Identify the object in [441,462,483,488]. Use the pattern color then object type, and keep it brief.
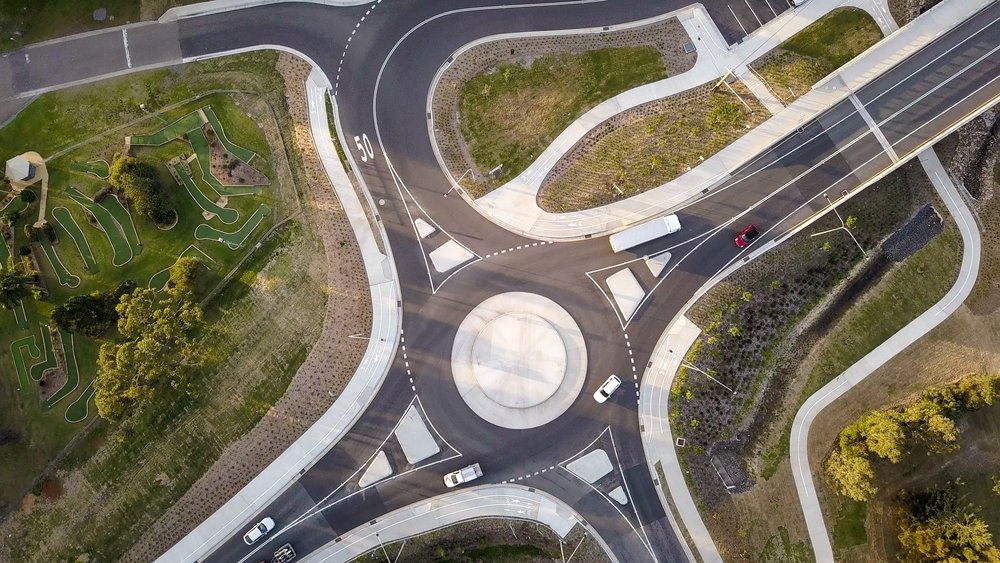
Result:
white truck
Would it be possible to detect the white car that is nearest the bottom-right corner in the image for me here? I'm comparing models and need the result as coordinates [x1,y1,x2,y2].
[593,374,624,406]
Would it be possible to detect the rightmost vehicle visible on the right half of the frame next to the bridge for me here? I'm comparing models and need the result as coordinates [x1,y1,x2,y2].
[734,221,764,248]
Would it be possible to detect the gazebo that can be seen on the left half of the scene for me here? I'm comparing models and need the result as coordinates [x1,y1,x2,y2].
[5,155,40,184]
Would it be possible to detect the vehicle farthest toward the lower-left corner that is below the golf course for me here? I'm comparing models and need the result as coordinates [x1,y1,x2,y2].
[240,517,274,548]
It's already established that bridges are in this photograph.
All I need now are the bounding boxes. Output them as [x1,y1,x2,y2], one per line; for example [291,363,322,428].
[751,0,1000,259]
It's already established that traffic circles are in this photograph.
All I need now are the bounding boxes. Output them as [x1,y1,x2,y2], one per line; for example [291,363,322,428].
[390,232,648,491]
